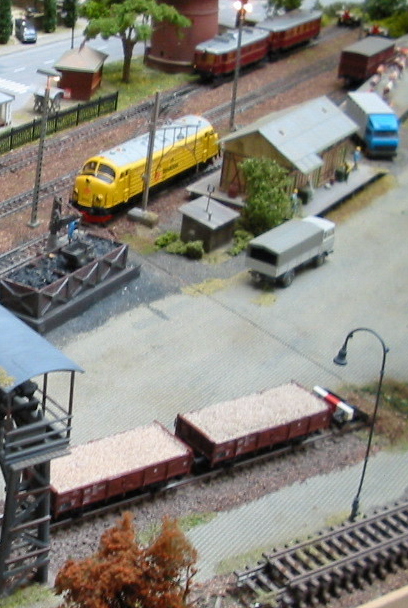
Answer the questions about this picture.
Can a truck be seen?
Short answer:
Yes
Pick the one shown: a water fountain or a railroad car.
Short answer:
railroad car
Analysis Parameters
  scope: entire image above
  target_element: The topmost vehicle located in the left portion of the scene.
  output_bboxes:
[13,17,38,41]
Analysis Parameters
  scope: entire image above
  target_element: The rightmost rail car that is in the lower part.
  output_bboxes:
[176,386,332,474]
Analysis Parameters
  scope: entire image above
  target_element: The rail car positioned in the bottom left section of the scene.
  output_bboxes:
[20,427,192,523]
